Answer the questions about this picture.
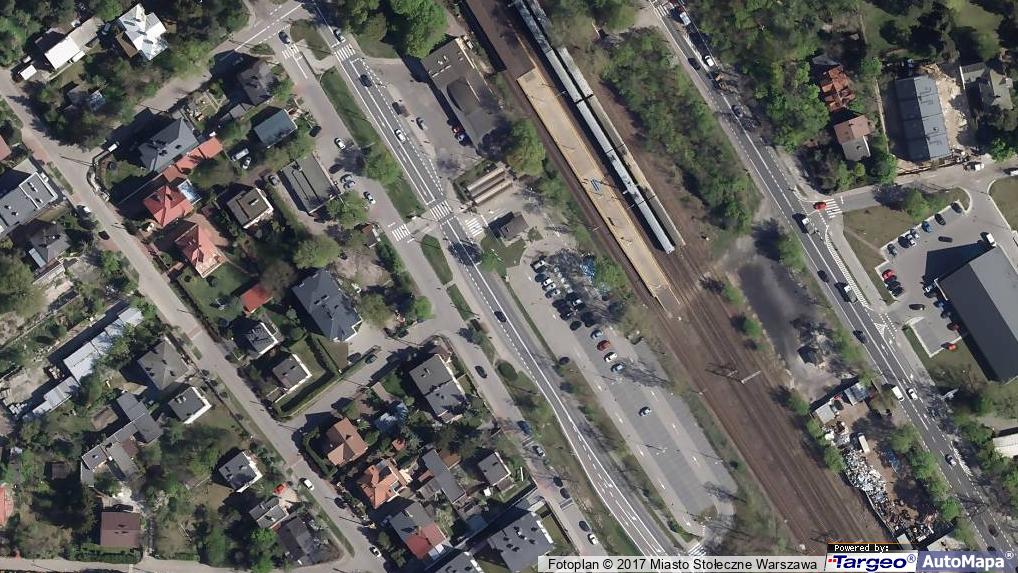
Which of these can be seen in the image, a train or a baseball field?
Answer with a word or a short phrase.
train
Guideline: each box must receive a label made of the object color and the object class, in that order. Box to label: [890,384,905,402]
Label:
white vehicle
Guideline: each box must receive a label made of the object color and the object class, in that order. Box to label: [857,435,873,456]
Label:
white vehicle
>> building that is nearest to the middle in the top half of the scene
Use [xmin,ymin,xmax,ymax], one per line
[501,213,531,241]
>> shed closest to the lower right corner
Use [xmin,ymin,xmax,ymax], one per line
[928,536,960,567]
